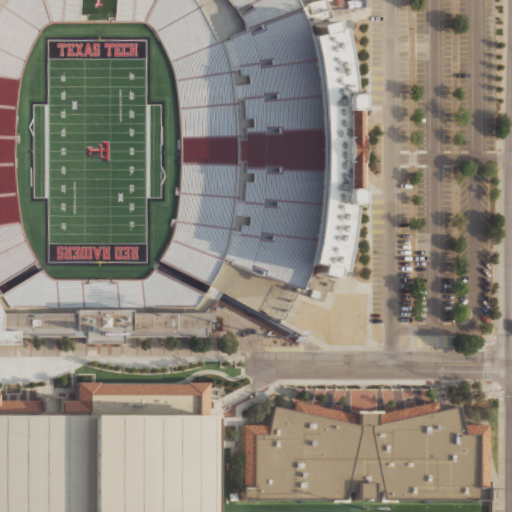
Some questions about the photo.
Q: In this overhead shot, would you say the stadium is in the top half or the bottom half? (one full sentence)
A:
Seen from above, the stadium lies in the top half of the view.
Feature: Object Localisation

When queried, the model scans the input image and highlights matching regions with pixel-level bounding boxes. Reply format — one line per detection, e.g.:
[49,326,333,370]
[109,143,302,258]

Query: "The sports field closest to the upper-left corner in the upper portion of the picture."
[16,22,182,282]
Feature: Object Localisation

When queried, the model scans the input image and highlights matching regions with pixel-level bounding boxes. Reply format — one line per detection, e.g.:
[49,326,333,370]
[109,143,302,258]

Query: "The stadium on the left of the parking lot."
[0,0,326,312]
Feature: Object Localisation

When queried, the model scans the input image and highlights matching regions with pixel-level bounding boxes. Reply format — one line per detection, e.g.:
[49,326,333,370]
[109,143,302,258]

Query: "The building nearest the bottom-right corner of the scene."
[245,398,491,503]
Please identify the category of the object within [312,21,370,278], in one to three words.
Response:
building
